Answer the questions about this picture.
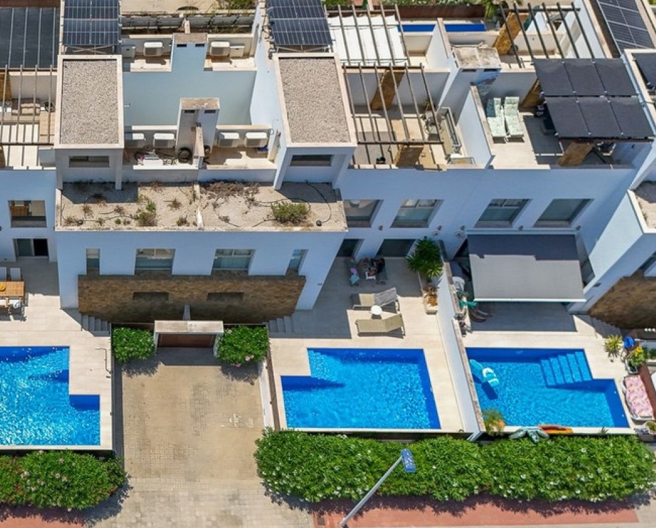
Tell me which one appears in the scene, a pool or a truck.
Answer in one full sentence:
Of the two, only a pool appears.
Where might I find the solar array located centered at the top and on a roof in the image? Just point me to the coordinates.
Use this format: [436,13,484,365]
[266,0,337,54]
